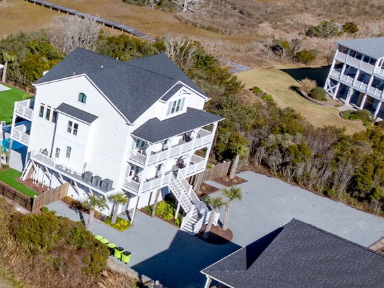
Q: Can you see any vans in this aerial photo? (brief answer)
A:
No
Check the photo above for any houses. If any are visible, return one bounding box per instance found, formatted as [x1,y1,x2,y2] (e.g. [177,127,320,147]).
[1,49,227,235]
[324,38,384,117]
[193,220,384,288]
